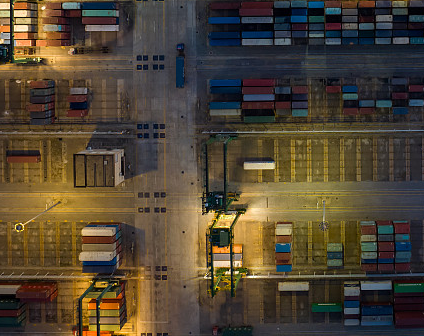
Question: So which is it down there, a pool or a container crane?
container crane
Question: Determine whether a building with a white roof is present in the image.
No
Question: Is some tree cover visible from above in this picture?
No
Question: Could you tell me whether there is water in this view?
No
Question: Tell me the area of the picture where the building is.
left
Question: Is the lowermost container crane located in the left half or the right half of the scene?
left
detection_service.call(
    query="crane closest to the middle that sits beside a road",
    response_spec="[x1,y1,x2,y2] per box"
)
[199,133,240,213]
